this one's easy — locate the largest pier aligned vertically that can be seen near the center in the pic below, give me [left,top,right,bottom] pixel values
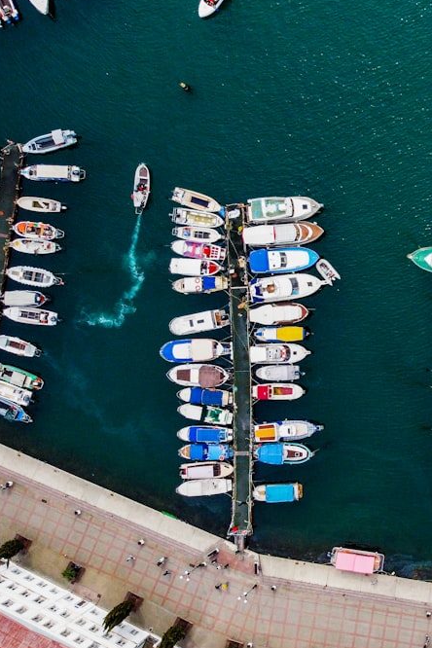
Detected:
[224,204,257,534]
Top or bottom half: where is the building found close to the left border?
bottom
